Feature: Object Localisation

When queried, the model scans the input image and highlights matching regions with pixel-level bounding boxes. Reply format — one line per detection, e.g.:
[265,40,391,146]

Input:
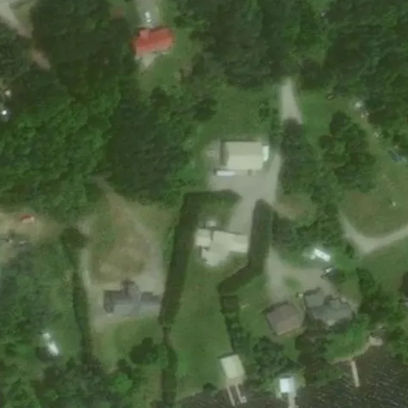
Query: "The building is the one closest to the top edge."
[133,24,174,58]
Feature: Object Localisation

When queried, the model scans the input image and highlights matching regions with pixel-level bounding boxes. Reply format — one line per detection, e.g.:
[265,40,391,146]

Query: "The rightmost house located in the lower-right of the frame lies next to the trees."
[303,291,356,330]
